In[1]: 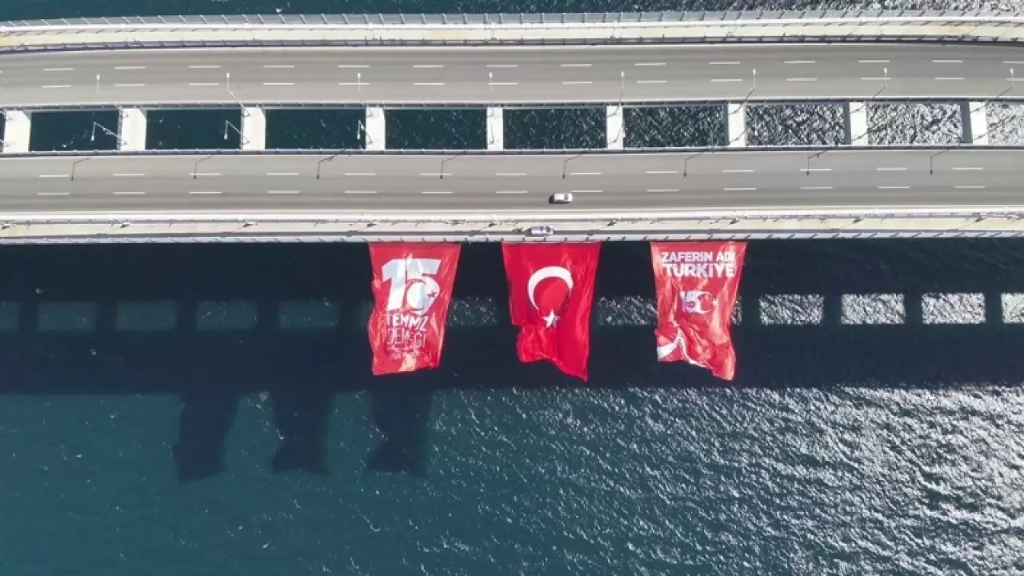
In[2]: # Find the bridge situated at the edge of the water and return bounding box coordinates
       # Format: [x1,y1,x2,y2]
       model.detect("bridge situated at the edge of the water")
[0,17,1024,245]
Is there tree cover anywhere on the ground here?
No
